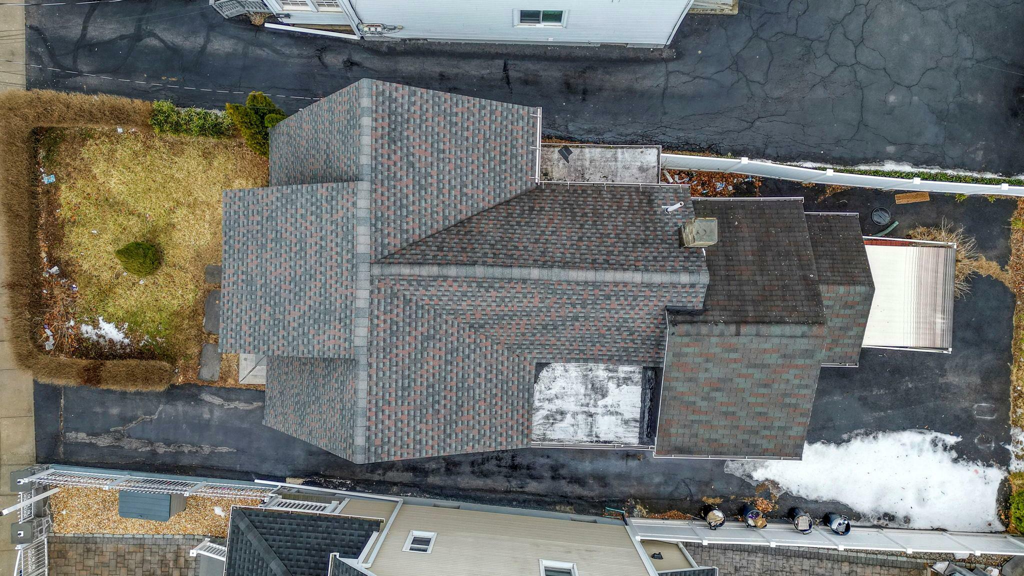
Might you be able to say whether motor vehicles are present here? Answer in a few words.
No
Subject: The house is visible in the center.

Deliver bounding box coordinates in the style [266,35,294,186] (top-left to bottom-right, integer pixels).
[218,78,959,465]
